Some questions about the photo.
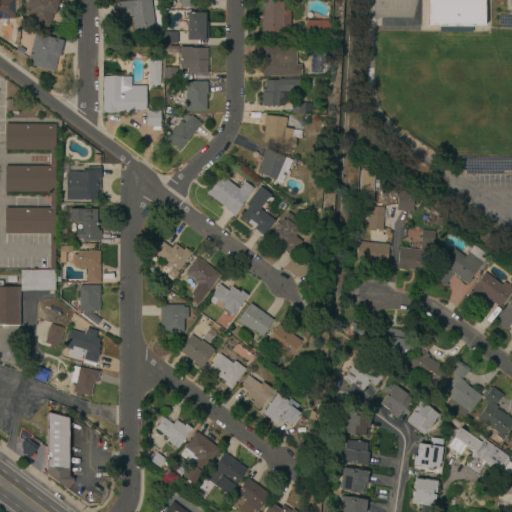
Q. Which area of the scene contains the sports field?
top right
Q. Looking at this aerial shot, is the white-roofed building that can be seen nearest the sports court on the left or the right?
right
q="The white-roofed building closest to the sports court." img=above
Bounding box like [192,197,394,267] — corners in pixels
[429,0,488,31]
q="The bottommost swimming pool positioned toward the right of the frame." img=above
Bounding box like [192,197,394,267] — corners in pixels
[489,265,509,282]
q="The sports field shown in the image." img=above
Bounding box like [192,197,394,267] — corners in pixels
[376,30,512,158]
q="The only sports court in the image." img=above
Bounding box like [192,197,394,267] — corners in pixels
[375,0,422,31]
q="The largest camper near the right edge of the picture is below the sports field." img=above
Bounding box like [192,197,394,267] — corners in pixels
[487,306,502,324]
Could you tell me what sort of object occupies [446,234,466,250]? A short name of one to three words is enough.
swimming pool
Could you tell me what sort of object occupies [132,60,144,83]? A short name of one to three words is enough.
swimming pool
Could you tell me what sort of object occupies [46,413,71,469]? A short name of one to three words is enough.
building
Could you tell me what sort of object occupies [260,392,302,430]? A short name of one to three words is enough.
house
